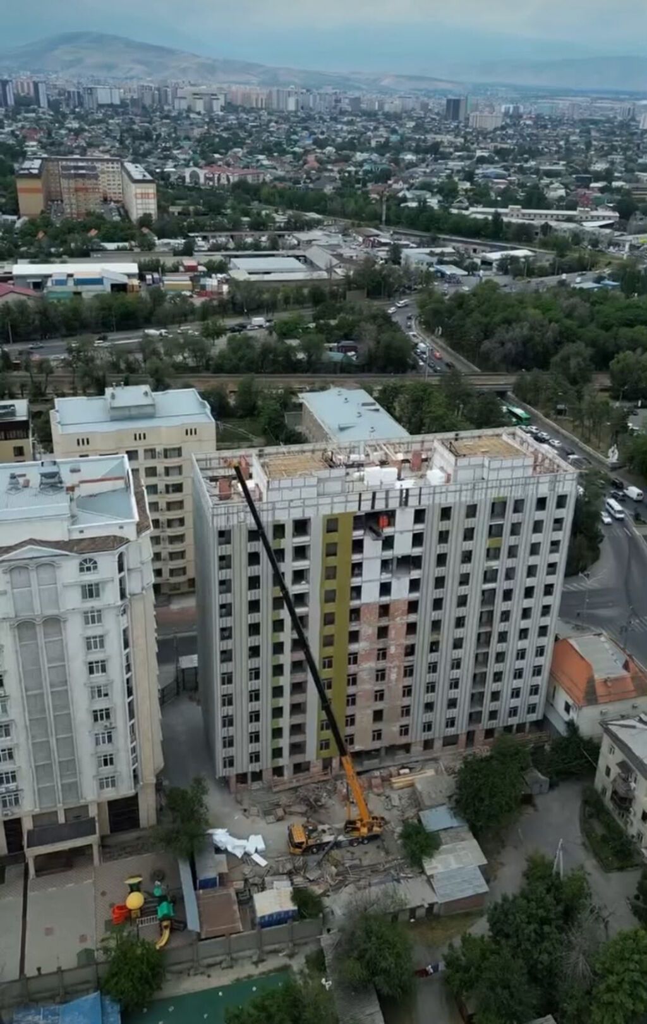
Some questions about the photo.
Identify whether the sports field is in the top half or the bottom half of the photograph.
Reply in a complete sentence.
It is in the bottom half that the sports field appears.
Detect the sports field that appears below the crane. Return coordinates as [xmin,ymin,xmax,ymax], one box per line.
[125,962,306,1024]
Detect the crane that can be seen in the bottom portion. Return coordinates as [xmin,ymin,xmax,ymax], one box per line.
[233,461,389,855]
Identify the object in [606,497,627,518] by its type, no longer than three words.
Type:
vehicle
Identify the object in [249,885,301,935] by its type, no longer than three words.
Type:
building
